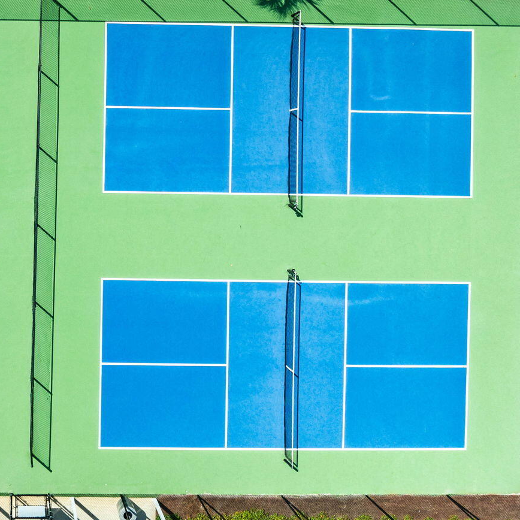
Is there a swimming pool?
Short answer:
No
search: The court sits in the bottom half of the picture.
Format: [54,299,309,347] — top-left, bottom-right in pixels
[101,279,470,451]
